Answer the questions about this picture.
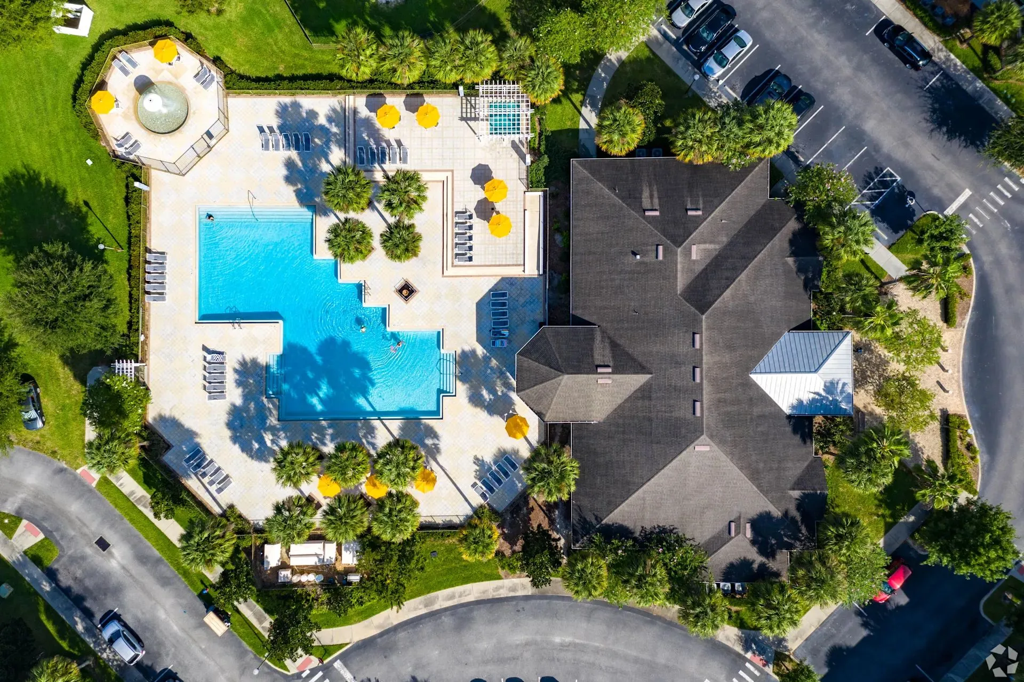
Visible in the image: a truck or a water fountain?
water fountain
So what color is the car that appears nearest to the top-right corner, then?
black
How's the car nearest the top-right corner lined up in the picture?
diagonally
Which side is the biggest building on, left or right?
right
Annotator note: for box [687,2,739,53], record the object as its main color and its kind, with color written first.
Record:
black car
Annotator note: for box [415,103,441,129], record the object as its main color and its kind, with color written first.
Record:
yellow umbrella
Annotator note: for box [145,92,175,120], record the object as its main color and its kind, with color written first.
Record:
white fountain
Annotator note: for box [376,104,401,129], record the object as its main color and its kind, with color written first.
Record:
yellow umbrella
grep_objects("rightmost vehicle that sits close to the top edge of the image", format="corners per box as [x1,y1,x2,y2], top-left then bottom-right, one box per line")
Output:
[881,22,934,72]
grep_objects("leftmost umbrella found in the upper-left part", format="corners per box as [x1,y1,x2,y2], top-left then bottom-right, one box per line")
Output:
[91,90,116,115]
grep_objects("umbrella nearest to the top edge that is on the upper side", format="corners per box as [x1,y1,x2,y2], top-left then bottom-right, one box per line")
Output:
[153,38,179,64]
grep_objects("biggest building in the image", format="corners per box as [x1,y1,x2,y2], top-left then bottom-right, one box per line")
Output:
[515,158,853,583]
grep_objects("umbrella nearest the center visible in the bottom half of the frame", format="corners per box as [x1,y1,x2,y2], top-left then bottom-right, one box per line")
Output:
[504,414,530,439]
